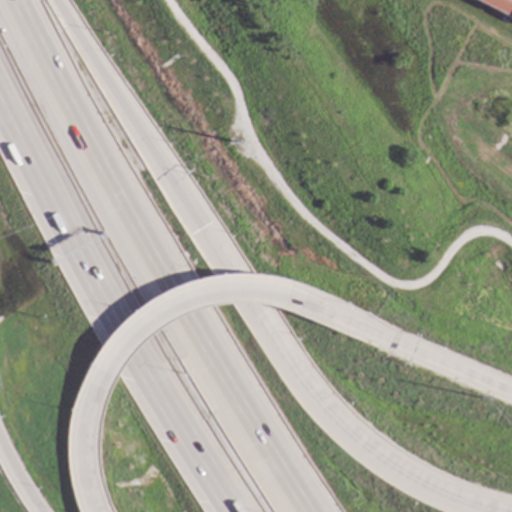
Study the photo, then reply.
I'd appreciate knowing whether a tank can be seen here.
No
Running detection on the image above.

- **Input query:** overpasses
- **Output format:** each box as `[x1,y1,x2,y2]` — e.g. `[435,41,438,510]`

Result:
[68,273,344,512]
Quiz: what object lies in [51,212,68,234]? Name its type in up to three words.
vehicle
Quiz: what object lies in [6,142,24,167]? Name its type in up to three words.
vehicle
